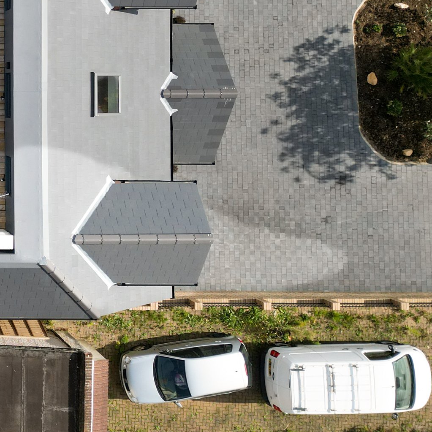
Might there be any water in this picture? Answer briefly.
No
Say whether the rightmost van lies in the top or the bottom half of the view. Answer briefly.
bottom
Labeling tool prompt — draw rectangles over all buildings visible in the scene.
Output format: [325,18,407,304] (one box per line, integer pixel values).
[0,0,238,323]
[0,344,104,432]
